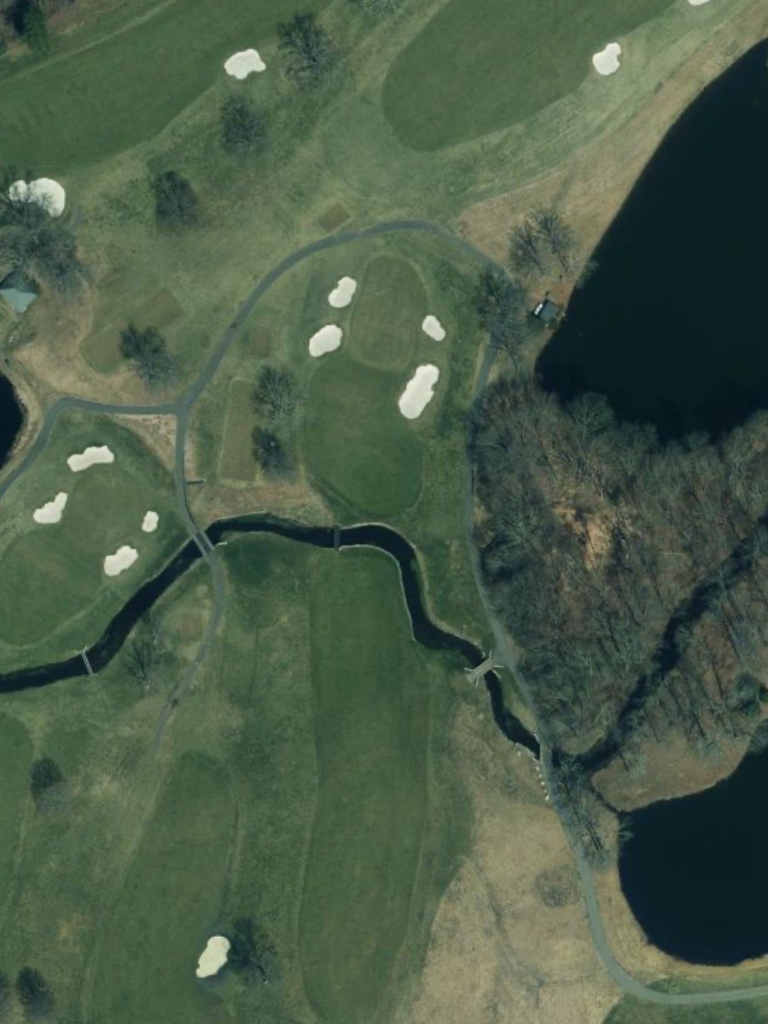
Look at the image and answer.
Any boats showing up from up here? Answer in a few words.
No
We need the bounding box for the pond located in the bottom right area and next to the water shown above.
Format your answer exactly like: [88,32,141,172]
[617,728,768,965]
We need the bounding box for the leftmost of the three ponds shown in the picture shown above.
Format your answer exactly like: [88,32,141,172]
[0,370,25,471]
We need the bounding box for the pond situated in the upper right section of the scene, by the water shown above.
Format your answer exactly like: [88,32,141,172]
[536,39,768,458]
